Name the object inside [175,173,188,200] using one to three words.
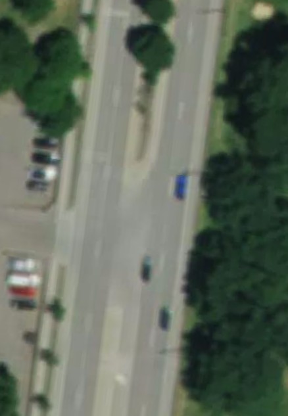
vehicle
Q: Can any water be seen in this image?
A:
No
